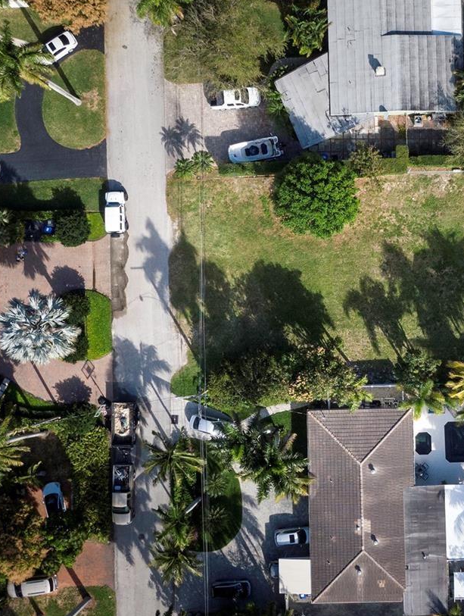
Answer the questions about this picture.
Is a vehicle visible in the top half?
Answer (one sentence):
Yes, you'll find a vehicle in the top half.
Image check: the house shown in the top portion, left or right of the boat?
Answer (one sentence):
Looking at the picture, you'll find the house shown in the top portion to the right of the boat.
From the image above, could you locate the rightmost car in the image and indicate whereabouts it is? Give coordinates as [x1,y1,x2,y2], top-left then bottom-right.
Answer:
[273,527,310,546]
